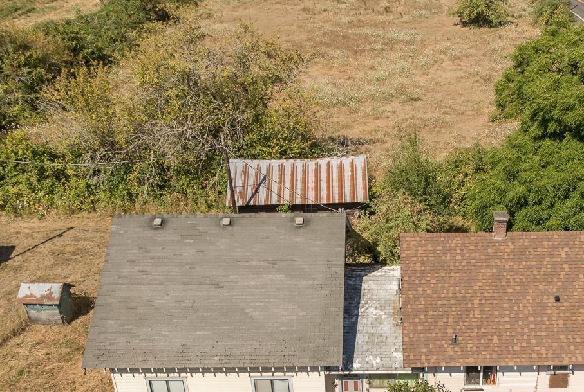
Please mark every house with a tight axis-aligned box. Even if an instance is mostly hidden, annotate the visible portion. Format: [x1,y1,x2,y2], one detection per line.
[400,210,584,392]
[83,207,356,392]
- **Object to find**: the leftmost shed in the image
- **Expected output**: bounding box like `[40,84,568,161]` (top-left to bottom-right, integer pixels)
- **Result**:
[15,281,74,323]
